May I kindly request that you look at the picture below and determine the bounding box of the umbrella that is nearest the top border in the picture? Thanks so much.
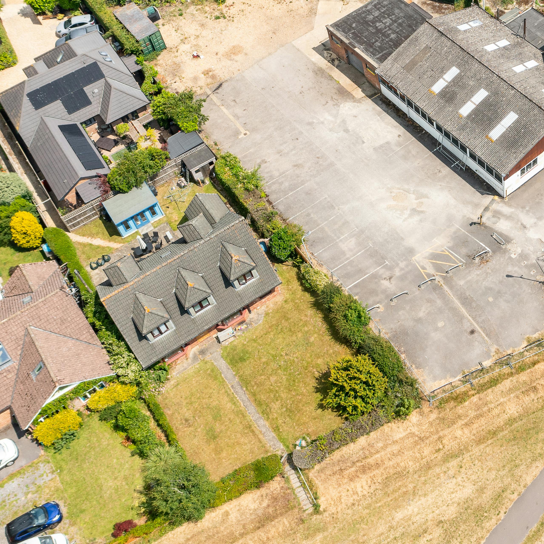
[95,136,118,151]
